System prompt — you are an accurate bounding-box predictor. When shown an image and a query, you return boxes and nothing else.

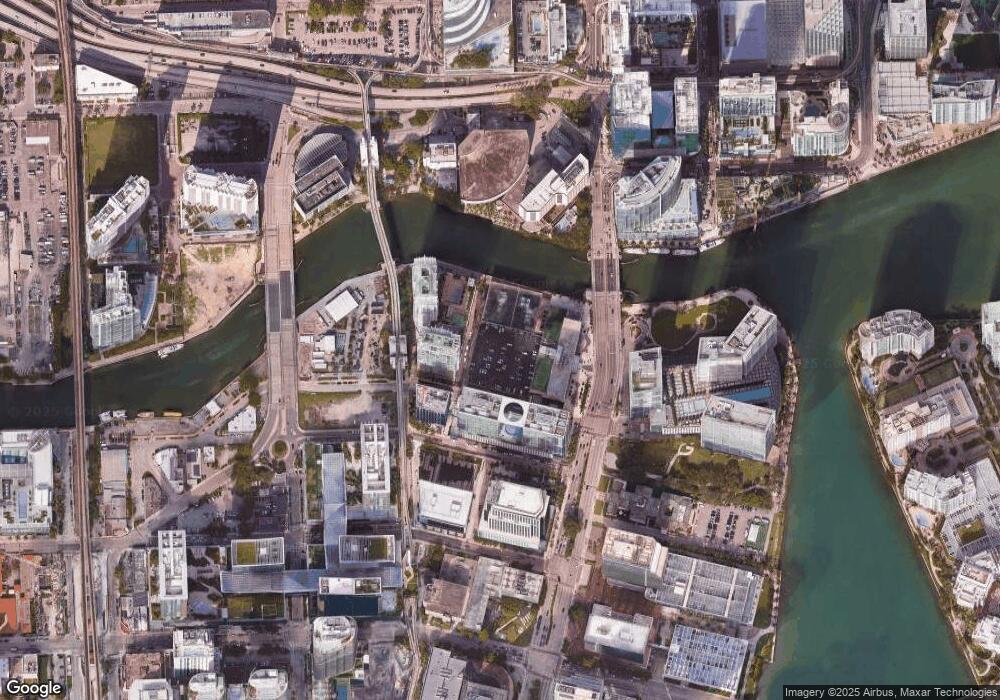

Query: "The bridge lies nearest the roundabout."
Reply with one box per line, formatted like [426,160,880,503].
[260,244,295,352]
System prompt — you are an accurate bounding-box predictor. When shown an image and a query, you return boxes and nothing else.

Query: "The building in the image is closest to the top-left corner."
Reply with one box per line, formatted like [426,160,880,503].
[34,54,60,71]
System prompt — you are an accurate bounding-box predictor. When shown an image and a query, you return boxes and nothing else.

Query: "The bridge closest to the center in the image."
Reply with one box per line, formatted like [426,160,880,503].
[587,248,624,307]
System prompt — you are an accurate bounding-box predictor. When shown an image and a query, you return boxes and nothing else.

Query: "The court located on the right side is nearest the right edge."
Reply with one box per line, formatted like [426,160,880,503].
[744,518,771,552]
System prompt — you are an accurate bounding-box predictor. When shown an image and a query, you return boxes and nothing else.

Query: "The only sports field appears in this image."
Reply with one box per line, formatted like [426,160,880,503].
[84,115,157,190]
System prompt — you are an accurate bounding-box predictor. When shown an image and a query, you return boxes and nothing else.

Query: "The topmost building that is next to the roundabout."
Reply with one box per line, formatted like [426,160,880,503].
[229,405,256,433]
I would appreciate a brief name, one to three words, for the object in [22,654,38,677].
house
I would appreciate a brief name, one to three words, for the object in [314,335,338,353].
shed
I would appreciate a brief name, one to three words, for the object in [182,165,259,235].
building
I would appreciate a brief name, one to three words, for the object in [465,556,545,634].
building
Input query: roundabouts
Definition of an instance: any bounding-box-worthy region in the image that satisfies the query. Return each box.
[263,430,297,464]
